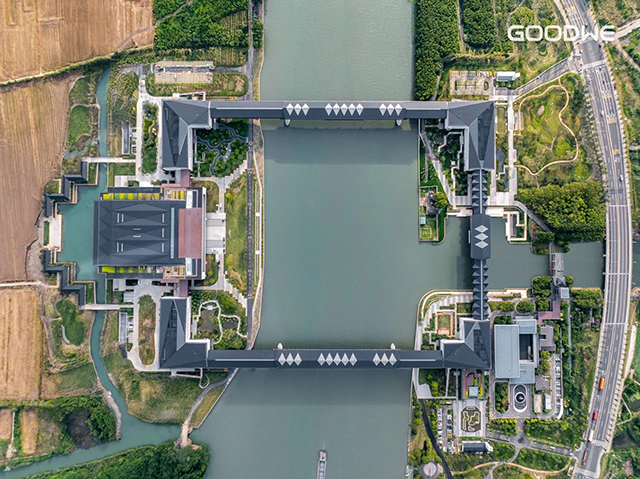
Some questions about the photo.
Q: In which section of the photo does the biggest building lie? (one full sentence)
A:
You can find the biggest building in the left area of the picture.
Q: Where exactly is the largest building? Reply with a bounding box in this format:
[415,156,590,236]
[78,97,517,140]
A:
[94,187,210,279]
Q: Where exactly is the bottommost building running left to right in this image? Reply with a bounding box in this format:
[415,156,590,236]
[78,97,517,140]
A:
[461,438,493,454]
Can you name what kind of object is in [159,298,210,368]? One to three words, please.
building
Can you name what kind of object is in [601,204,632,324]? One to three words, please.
bridge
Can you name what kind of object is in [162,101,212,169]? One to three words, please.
building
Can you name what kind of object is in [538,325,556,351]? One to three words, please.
house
